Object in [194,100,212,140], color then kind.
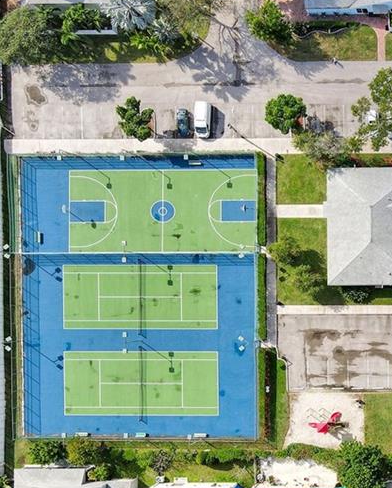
white vehicle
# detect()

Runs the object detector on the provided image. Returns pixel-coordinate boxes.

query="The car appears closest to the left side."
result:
[176,108,191,137]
